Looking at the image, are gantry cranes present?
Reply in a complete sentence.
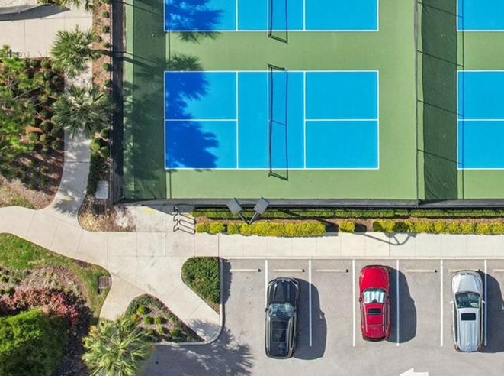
No, I can see no gantry crane in this picture.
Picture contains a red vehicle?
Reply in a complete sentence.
Yes, a red vehicle can be made out from above.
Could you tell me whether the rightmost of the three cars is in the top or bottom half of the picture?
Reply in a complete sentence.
The bottom half of the photo is where the rightmost of the three cars is.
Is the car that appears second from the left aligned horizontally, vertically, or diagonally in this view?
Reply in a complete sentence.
The car that appears second from the left runs vertically in the image.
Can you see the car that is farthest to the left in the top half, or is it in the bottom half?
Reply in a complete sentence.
The bottom half of the photo is where the car that is farthest to the left is.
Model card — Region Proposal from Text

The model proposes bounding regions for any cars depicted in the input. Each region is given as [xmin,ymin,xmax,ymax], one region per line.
[356,263,394,340]
[449,269,489,351]
[262,275,301,359]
